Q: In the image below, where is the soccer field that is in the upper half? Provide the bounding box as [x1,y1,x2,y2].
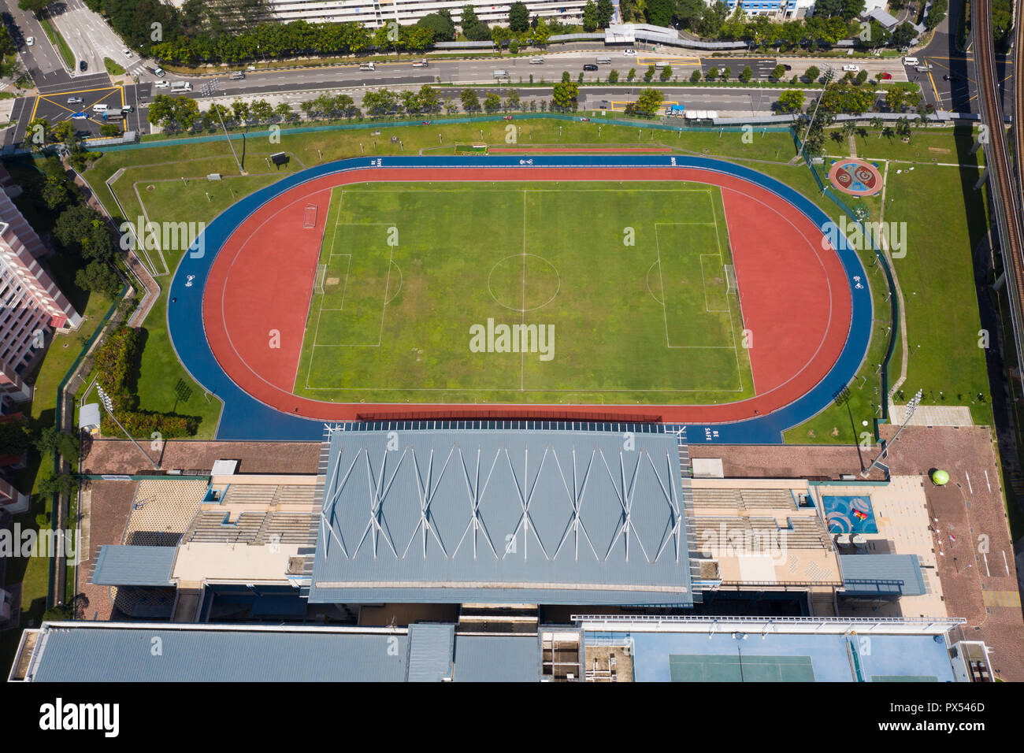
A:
[292,181,757,406]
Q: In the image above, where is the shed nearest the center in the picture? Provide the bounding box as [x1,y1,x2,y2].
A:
[691,458,724,478]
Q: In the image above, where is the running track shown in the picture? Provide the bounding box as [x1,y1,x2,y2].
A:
[166,154,874,444]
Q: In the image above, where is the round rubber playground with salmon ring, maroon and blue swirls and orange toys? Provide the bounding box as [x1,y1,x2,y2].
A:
[829,159,883,196]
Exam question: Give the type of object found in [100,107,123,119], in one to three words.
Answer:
vehicle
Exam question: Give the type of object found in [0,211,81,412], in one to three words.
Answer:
building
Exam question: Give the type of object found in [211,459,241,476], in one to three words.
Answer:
shed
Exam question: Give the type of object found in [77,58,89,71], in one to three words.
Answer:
vehicle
